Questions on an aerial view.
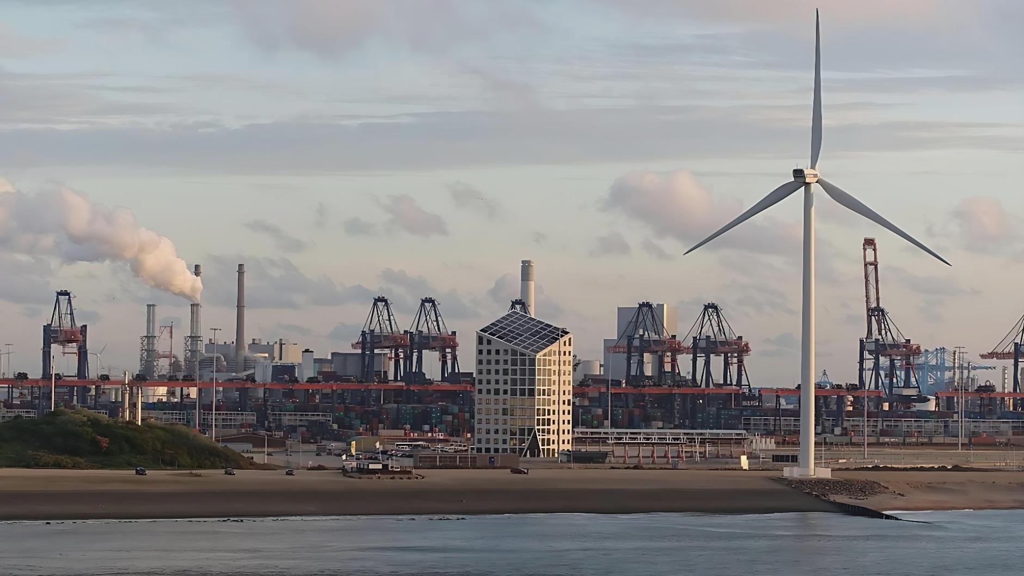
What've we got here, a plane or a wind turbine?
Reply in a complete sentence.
It is a wind turbine that can be seen here.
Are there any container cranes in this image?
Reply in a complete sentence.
Yes, the image includes a container crane.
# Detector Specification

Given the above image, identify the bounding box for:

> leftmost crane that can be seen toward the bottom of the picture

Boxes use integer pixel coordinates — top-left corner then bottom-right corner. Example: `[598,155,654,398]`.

[0,371,40,398]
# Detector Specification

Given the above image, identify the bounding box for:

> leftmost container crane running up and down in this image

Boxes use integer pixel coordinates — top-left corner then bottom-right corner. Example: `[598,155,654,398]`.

[43,286,86,401]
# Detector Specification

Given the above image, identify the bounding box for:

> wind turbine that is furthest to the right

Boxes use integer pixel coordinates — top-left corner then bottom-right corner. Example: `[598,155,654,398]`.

[680,9,957,475]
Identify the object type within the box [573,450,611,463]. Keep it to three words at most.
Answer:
building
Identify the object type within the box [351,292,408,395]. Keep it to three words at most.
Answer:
container crane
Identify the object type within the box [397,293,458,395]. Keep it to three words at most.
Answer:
container crane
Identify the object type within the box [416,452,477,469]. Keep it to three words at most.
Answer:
building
